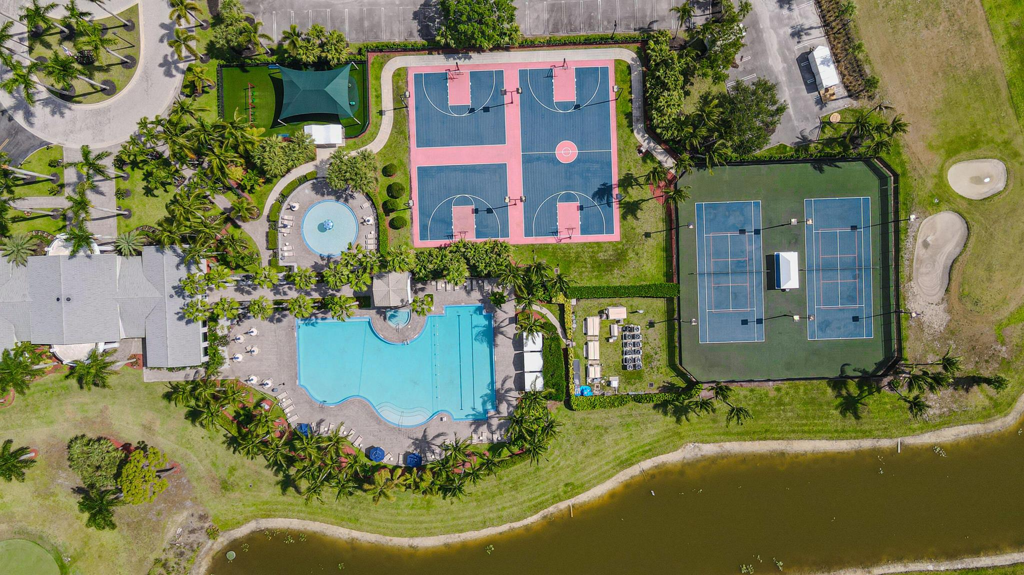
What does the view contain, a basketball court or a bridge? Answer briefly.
basketball court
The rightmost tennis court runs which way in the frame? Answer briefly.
vertically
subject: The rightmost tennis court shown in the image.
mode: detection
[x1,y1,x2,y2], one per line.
[805,197,874,340]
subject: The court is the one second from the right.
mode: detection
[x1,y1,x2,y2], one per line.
[695,200,765,343]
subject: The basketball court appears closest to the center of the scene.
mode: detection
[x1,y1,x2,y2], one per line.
[416,162,509,241]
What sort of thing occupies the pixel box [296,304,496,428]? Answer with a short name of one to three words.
swimming pool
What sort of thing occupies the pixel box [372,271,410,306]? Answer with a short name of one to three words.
building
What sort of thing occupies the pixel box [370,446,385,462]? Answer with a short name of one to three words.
umbrella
